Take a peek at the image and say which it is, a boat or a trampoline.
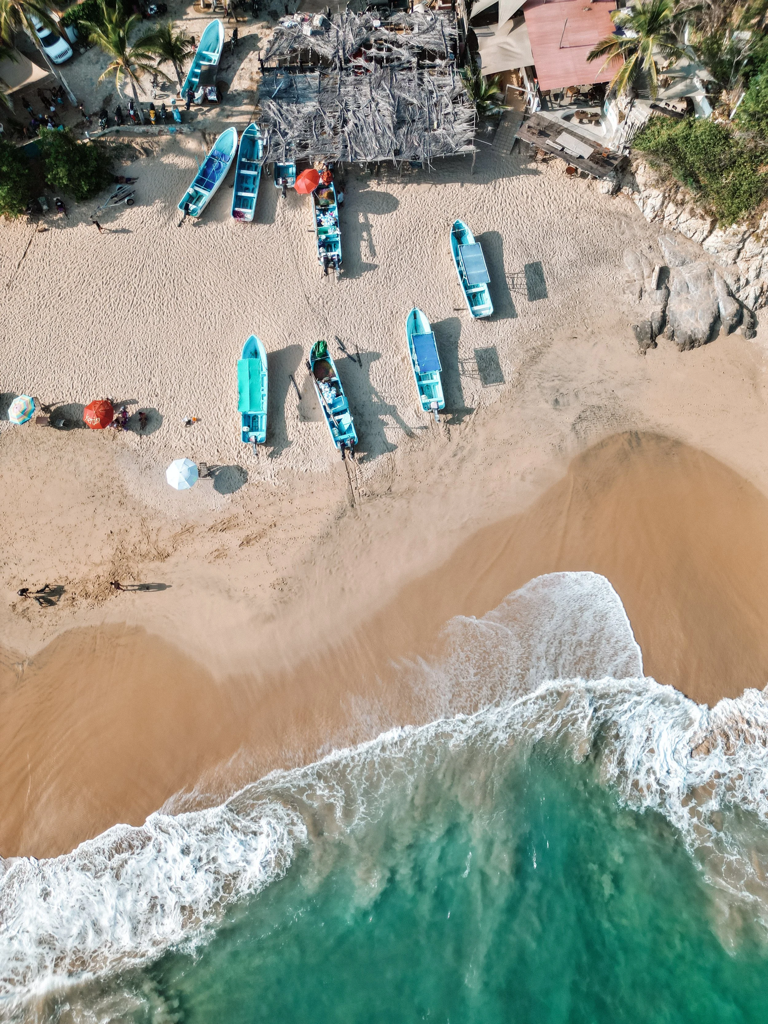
boat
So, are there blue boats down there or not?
Yes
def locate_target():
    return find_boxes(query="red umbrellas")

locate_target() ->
[294,171,320,193]
[82,398,114,429]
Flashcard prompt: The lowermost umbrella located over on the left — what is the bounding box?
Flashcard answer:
[165,456,200,490]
